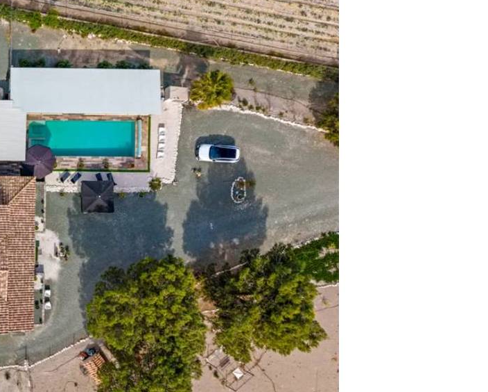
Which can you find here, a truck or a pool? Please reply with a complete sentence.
I can see a pool in this picture.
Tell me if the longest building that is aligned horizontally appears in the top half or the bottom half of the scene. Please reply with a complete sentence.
You can find the longest building that is aligned horizontally in the top half.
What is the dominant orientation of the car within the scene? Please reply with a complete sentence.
The car has been laid out horizontally relative to the frame.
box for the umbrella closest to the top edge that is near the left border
[23,146,55,178]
